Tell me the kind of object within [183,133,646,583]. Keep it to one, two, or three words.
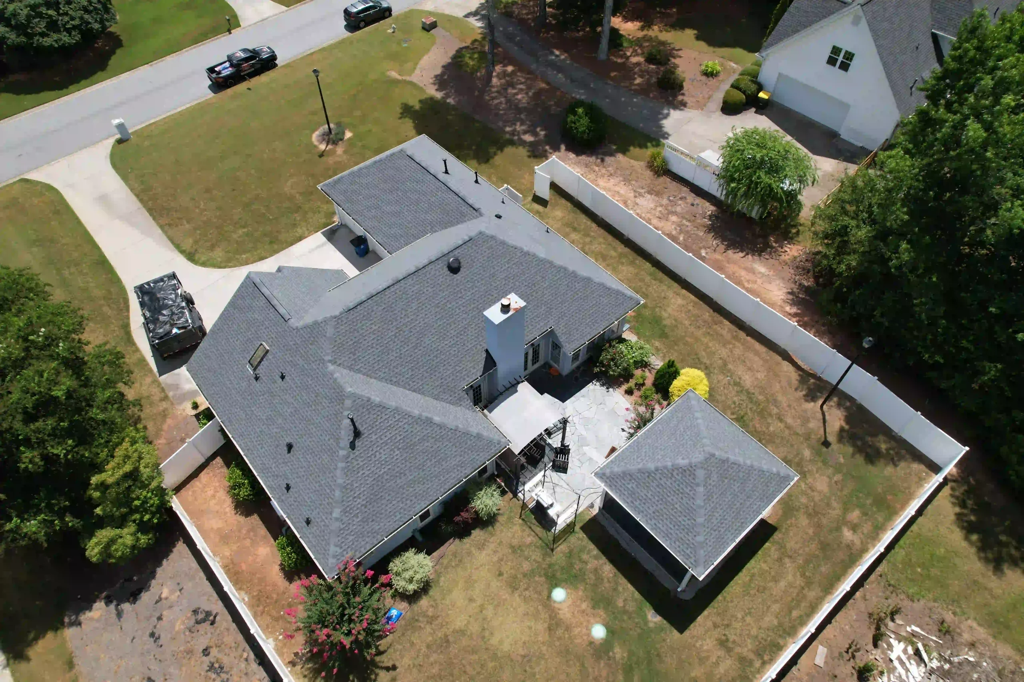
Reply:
house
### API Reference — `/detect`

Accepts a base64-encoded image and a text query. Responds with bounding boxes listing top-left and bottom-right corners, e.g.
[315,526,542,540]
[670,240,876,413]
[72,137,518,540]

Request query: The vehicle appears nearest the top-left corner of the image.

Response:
[201,42,283,86]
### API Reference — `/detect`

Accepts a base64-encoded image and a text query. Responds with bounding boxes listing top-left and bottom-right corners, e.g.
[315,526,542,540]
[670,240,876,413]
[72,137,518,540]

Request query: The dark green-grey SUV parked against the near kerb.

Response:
[339,0,394,28]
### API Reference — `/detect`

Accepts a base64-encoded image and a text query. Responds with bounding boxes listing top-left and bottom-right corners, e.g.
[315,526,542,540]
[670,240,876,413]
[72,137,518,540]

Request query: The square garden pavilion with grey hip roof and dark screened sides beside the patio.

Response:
[588,387,803,599]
